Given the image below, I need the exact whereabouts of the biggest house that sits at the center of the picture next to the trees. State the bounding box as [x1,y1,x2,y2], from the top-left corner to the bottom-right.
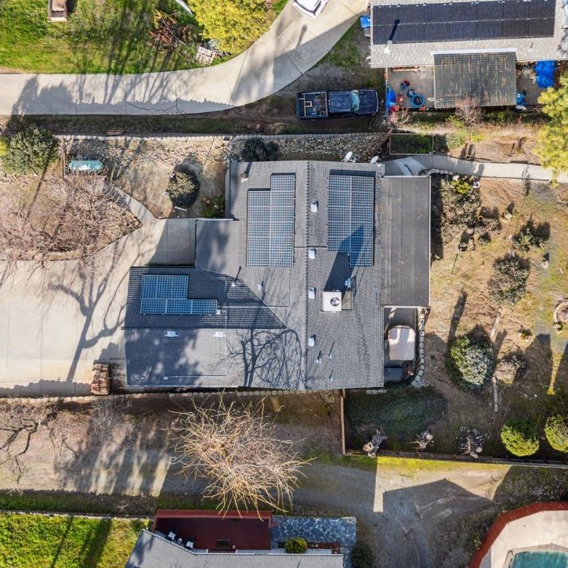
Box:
[119,148,430,394]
